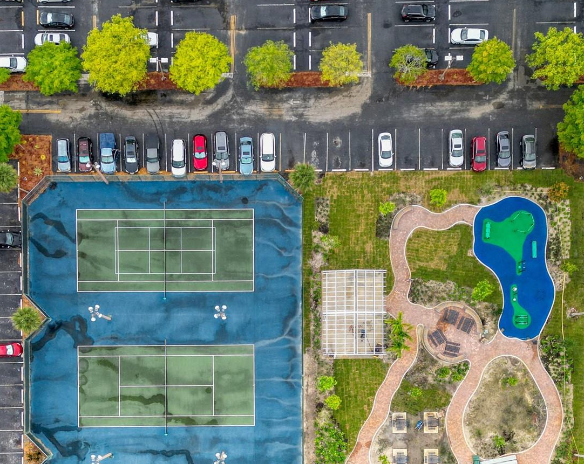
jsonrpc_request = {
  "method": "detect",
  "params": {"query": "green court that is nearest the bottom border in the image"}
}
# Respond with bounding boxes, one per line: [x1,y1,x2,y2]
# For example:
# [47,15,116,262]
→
[78,339,255,436]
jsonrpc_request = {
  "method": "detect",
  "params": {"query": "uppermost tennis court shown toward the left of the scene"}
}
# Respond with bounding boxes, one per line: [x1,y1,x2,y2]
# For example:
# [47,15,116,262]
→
[77,196,255,301]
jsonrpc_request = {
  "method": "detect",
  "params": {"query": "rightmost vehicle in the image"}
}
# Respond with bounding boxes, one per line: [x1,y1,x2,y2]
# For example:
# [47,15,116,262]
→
[519,134,538,170]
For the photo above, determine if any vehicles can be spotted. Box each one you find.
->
[192,134,208,170]
[378,132,394,168]
[450,27,489,45]
[77,136,94,173]
[135,28,164,49]
[239,136,255,175]
[39,11,76,30]
[35,29,70,47]
[144,133,161,174]
[470,136,488,173]
[519,134,538,170]
[55,137,72,174]
[0,342,24,358]
[99,132,121,174]
[310,4,348,23]
[495,132,513,168]
[400,3,436,23]
[403,49,438,68]
[448,129,465,167]
[123,136,139,174]
[214,132,230,169]
[171,139,187,177]
[0,55,27,73]
[0,231,22,248]
[260,133,276,173]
